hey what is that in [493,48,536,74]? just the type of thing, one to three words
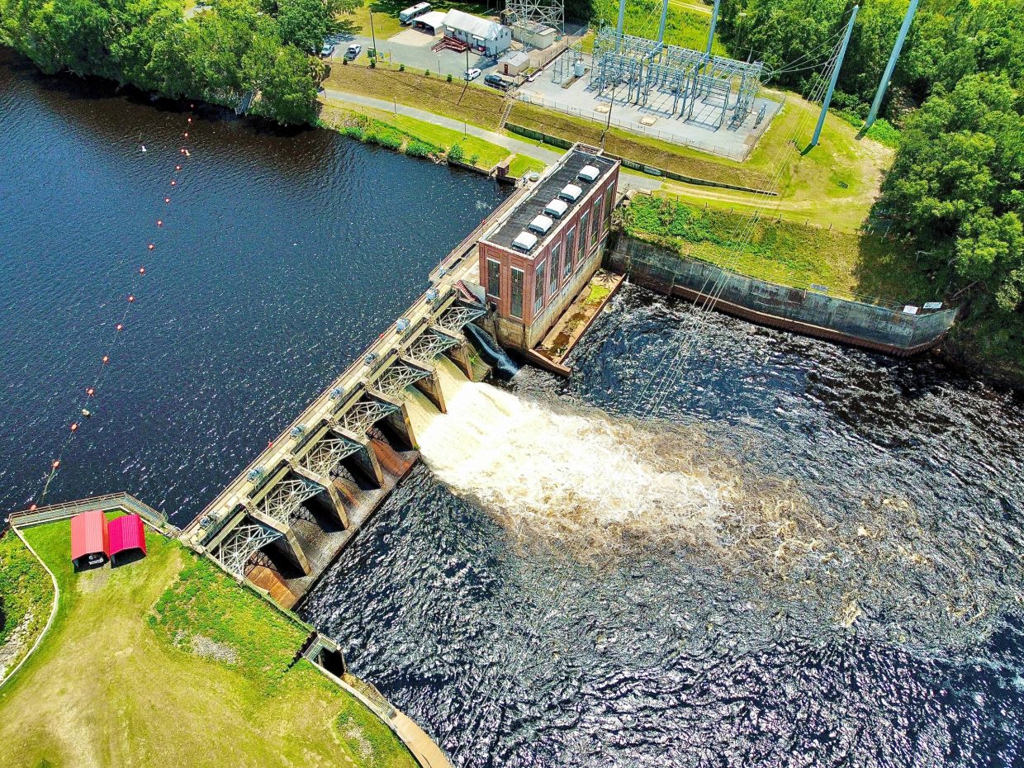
shed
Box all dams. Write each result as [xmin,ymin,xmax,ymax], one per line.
[175,281,501,613]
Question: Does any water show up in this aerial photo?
Yes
